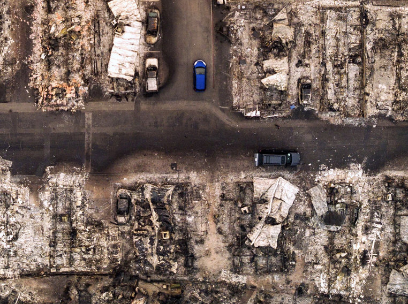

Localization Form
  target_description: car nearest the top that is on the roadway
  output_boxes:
[145,9,160,44]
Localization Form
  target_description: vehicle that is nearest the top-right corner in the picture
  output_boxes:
[297,81,312,105]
